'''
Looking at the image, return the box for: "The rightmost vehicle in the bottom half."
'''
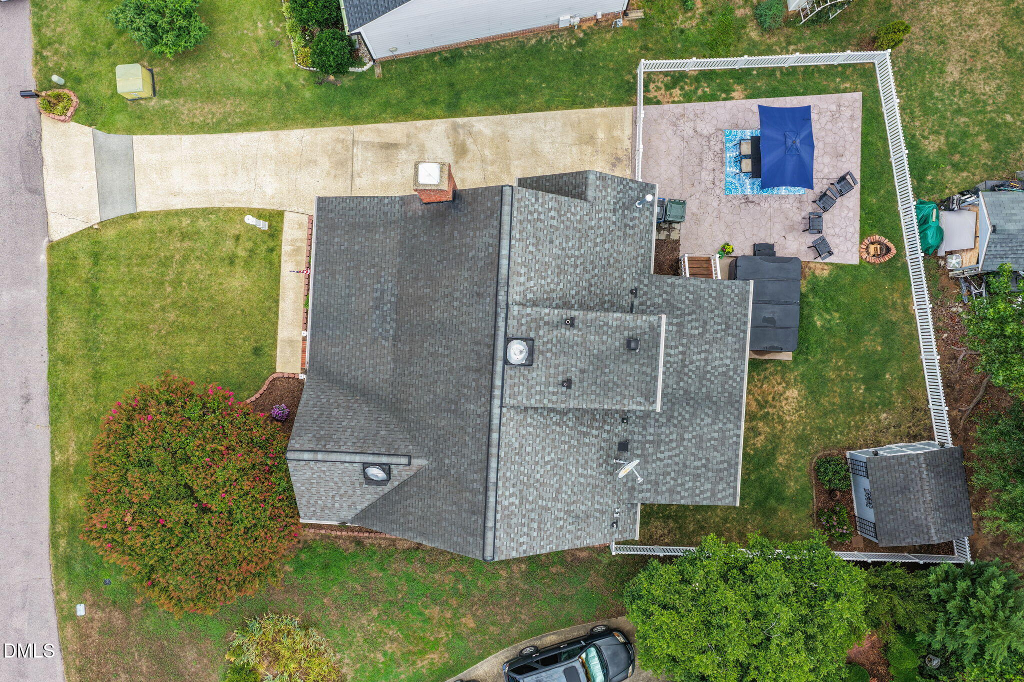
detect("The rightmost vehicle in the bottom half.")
[505,625,639,682]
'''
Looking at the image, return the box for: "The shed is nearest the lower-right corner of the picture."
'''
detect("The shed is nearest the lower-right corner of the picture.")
[846,440,974,547]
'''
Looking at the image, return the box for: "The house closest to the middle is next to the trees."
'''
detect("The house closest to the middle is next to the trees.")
[284,162,754,562]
